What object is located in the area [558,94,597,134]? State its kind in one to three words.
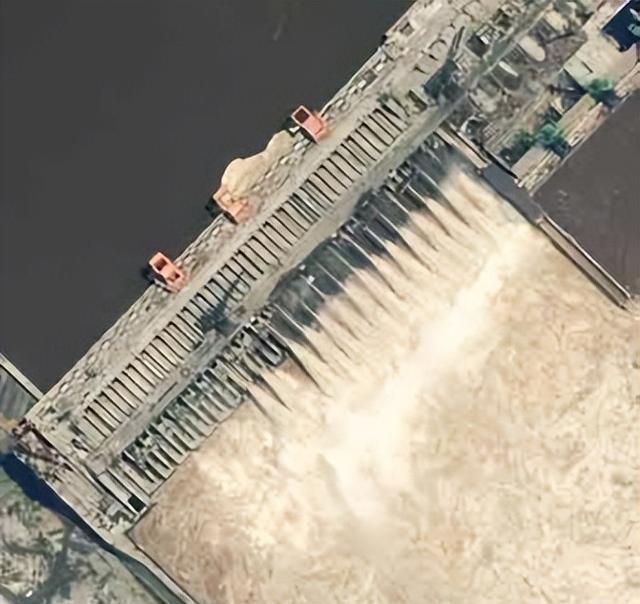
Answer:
shed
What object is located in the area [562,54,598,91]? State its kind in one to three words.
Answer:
building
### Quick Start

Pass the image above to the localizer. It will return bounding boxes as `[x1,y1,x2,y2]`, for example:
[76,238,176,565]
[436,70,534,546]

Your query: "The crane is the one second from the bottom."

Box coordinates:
[148,254,187,293]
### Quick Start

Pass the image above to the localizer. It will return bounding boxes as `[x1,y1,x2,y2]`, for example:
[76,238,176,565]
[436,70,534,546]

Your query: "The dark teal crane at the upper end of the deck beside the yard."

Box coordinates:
[432,26,464,107]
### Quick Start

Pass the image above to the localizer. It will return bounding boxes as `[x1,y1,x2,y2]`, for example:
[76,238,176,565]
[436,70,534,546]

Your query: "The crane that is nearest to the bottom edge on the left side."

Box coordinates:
[211,276,244,333]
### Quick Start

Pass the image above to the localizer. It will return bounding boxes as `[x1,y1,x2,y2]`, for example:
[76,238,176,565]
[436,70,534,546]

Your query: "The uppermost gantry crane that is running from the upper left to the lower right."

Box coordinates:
[291,106,329,145]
